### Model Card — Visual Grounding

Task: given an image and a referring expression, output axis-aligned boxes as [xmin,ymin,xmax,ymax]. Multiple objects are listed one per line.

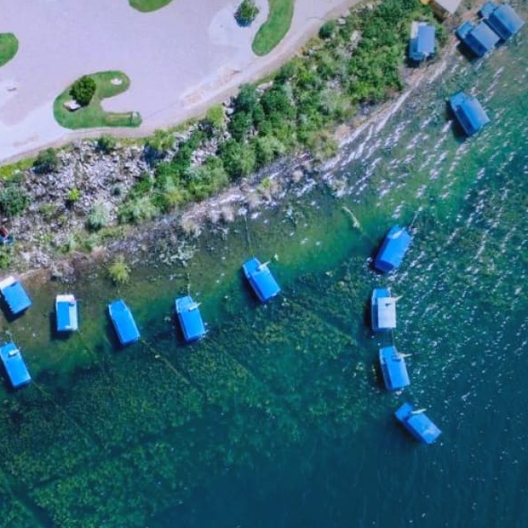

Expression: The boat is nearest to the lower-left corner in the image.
[0,343,31,387]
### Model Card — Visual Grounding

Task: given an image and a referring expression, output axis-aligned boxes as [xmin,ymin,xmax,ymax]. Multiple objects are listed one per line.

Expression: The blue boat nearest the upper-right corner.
[481,0,528,43]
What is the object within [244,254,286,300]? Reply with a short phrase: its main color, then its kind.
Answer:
blue boat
